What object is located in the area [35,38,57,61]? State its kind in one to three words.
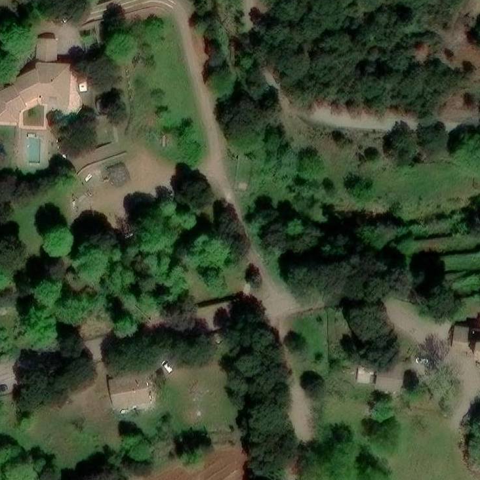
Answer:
building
